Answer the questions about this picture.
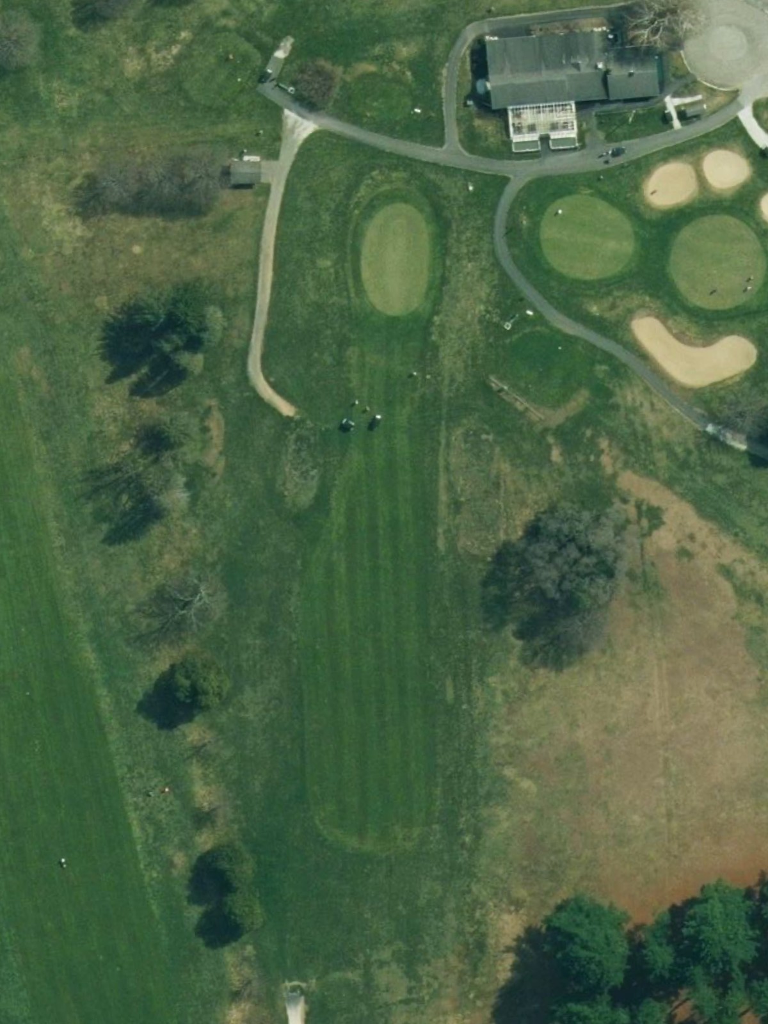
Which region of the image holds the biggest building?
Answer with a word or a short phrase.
top right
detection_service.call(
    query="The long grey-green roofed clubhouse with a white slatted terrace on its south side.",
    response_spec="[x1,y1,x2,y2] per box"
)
[486,29,666,112]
